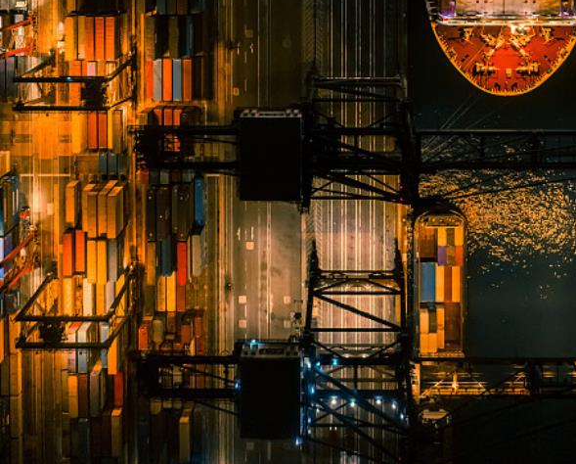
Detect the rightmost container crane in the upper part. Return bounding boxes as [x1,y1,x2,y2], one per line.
[116,58,576,208]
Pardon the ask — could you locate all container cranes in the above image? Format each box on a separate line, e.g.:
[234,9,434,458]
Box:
[116,58,576,208]
[0,11,38,62]
[7,56,134,112]
[8,263,134,345]
[116,240,576,464]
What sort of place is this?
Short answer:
port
